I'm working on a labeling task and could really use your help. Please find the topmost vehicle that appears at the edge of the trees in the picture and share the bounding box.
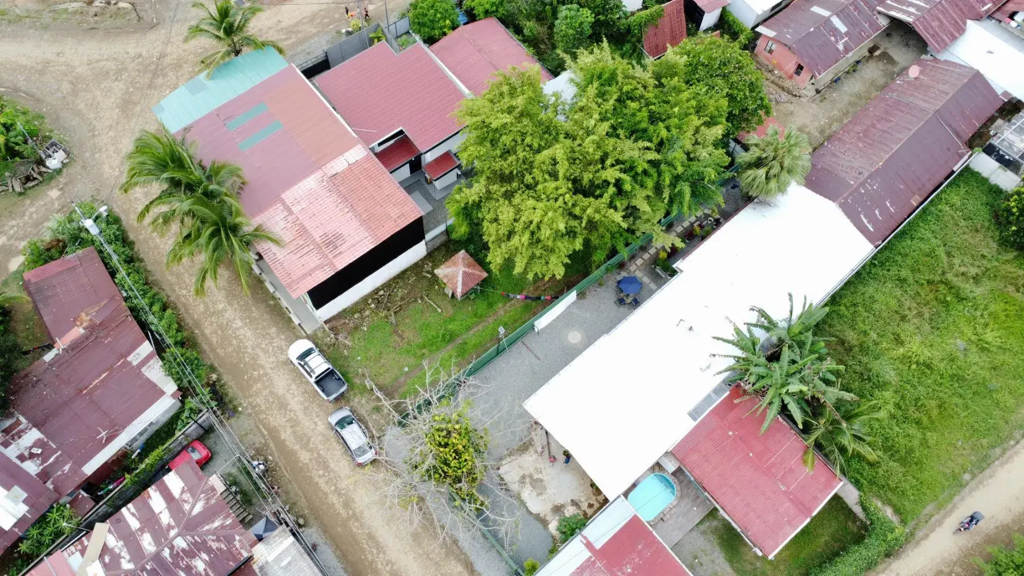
[292,340,350,406]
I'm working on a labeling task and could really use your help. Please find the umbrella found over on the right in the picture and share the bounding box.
[616,276,640,296]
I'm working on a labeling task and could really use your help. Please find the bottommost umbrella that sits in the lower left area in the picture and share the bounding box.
[250,516,279,541]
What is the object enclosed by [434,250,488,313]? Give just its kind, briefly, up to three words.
shed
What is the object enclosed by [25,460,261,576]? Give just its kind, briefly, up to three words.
house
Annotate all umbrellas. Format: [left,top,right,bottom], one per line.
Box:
[616,276,640,296]
[250,516,279,541]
